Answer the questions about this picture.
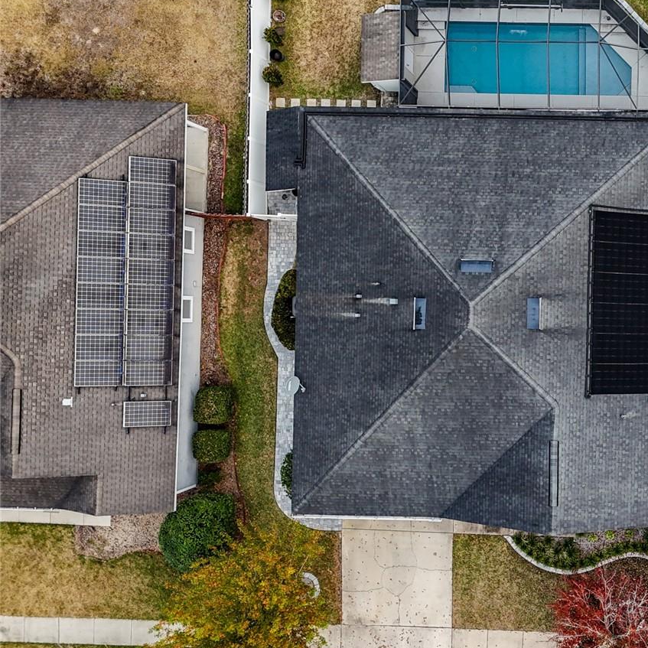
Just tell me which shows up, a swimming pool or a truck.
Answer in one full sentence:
There is a swimming pool in the scene.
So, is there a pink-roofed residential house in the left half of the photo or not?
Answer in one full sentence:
No, looking in the left half of the photo, there is no pink-roofed residential house.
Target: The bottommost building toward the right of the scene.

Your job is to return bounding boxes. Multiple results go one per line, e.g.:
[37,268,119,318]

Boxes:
[264,108,648,533]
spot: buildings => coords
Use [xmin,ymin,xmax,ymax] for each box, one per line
[361,11,414,90]
[264,108,648,533]
[0,99,210,514]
